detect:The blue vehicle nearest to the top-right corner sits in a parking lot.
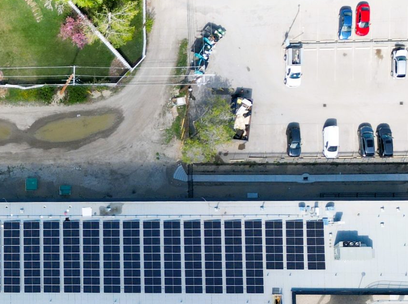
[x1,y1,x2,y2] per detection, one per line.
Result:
[339,8,357,41]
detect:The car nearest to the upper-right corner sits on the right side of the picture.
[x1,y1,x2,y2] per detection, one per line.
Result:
[356,3,373,36]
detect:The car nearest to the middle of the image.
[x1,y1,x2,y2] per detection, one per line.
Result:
[286,128,303,161]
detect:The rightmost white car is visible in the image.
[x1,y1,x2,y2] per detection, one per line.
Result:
[391,47,408,80]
